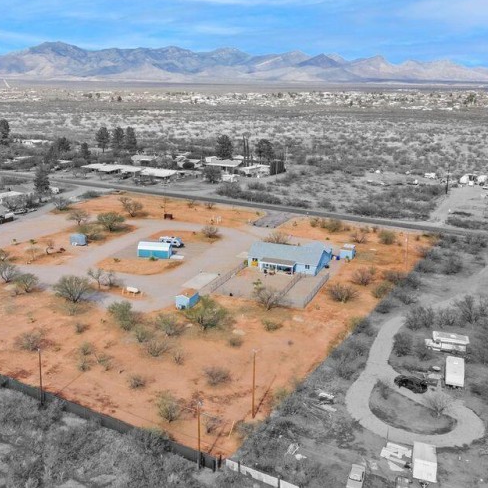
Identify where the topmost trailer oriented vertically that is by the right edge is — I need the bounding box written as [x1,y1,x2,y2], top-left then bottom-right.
[444,356,464,402]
